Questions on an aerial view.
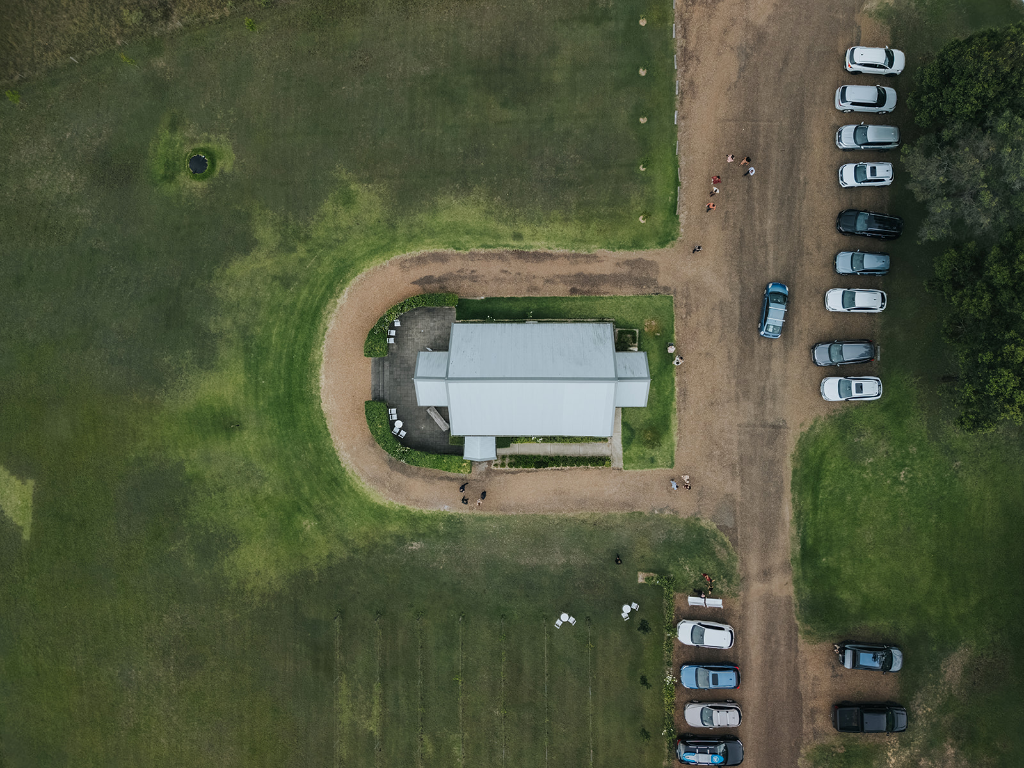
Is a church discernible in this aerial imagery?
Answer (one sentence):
Yes, a church is visible in the scene.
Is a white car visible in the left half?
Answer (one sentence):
No, the scene shows no white car in the left half.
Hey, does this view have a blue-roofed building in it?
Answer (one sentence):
No, there isn't any blue-roofed building down there.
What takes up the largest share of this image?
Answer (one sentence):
The scene is dominated by grass.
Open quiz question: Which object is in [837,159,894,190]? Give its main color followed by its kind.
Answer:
white car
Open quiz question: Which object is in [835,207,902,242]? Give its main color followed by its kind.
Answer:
black car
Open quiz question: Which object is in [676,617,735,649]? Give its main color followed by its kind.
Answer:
white car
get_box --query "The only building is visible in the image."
[411,320,652,461]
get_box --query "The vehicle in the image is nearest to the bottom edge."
[675,731,743,768]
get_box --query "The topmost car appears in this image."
[844,45,905,79]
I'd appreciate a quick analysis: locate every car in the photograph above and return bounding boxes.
[823,284,886,315]
[837,159,894,190]
[819,373,882,404]
[810,339,875,369]
[834,121,900,155]
[841,640,903,675]
[676,617,735,649]
[682,697,743,730]
[757,285,791,338]
[675,731,743,768]
[844,45,905,79]
[678,660,741,693]
[831,247,890,277]
[835,84,896,117]
[835,207,902,242]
